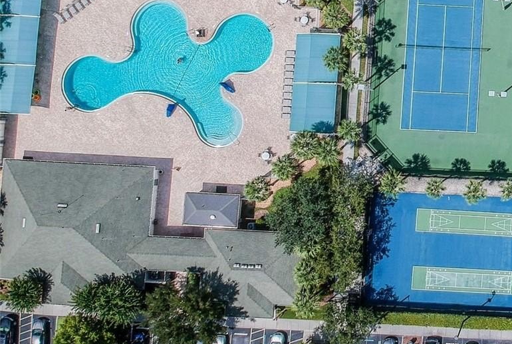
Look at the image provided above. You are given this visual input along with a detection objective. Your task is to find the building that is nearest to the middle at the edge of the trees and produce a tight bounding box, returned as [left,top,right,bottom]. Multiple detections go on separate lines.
[182,191,241,227]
